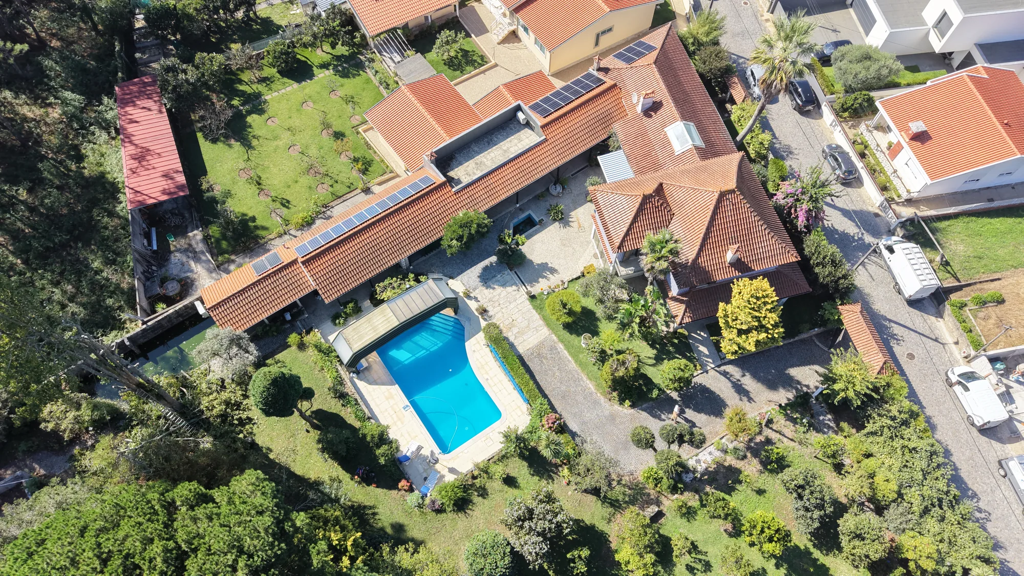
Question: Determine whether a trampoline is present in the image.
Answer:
No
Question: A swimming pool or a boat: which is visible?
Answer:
swimming pool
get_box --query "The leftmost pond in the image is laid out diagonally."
[100,308,222,410]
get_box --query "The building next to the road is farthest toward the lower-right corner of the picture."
[838,303,902,382]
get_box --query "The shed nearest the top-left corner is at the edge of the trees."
[113,76,205,225]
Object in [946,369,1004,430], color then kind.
white van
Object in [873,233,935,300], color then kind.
white van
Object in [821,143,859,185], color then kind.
gray car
